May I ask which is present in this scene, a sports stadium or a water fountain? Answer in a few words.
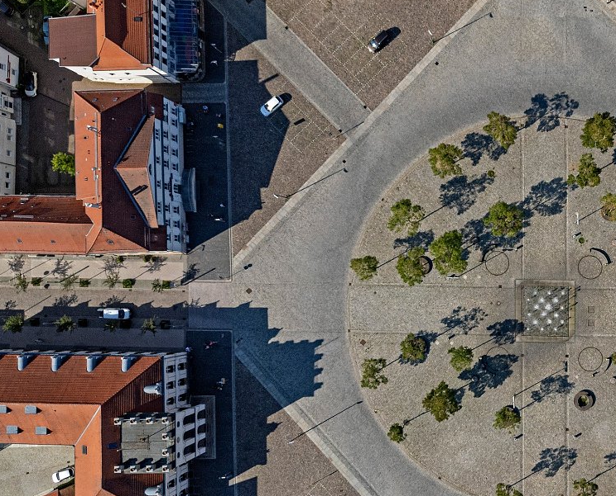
water fountain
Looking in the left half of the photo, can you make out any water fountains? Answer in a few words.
No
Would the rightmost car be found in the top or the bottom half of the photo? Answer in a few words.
top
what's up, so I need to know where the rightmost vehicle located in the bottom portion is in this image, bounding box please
[96,306,135,322]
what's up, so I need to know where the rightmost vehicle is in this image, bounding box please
[365,28,392,53]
